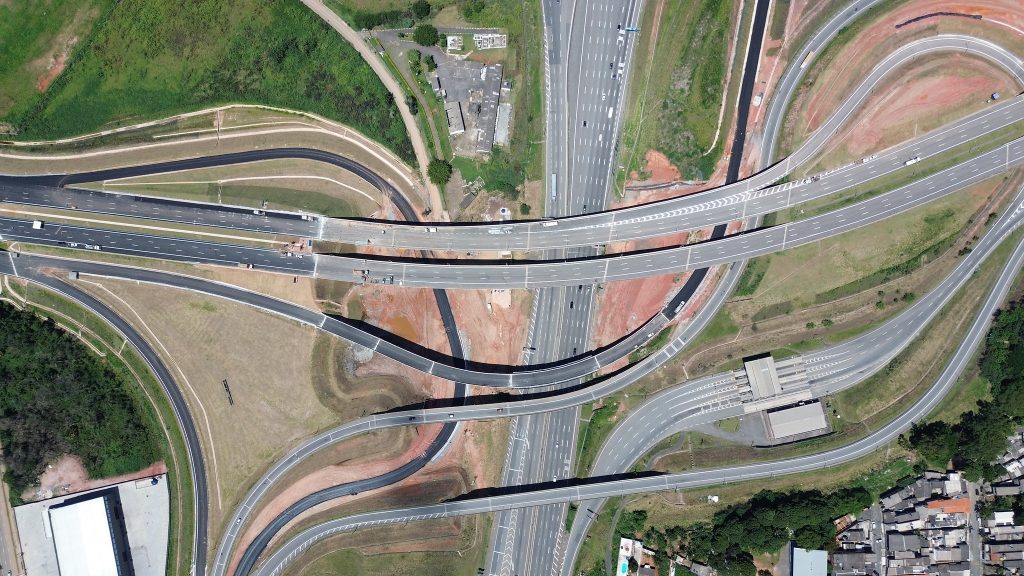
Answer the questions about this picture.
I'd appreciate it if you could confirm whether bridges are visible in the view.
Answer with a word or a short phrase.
Yes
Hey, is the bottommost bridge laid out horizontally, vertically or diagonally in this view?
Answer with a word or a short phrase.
horizontally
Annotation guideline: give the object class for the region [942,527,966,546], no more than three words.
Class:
house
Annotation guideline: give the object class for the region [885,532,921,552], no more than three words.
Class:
house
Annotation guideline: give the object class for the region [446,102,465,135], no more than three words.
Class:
building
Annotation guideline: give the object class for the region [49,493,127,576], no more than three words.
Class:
building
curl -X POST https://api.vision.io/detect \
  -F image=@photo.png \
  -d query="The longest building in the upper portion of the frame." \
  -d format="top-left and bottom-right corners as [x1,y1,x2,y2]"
[476,64,502,153]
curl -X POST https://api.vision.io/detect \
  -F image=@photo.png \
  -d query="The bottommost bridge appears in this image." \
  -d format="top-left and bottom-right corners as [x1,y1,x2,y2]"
[443,475,669,516]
